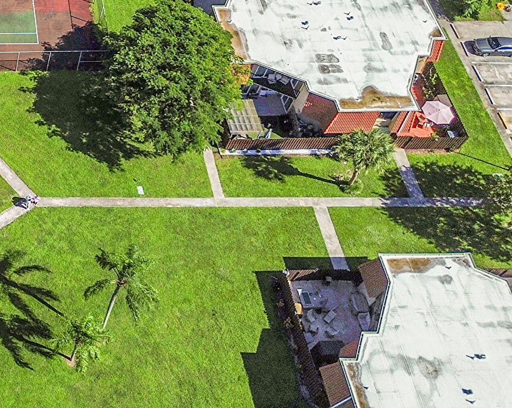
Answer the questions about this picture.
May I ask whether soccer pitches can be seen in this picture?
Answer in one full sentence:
No, the picture doesn't show any soccer pitch.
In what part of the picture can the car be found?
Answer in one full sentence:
The car appears toward the top right of the photo.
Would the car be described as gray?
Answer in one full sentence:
Yes, the car appears gray.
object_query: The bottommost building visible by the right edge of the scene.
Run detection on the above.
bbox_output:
[319,254,512,408]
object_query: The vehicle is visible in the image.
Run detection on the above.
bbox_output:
[469,35,512,56]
